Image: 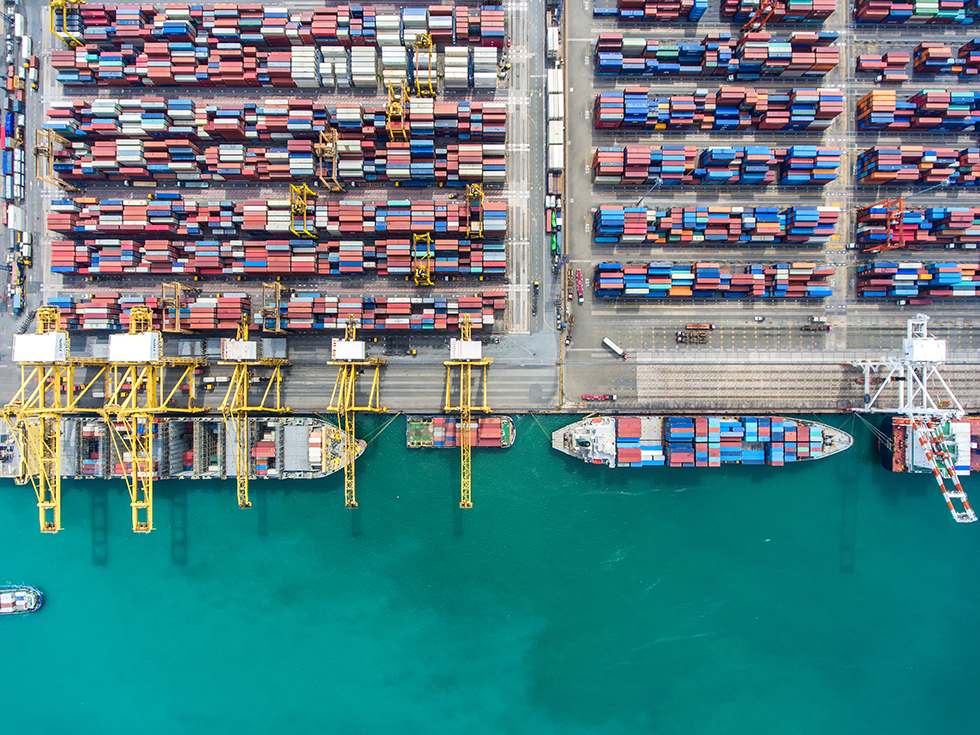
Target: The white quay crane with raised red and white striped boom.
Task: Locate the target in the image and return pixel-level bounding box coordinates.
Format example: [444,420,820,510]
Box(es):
[837,313,980,522]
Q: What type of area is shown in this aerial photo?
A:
port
